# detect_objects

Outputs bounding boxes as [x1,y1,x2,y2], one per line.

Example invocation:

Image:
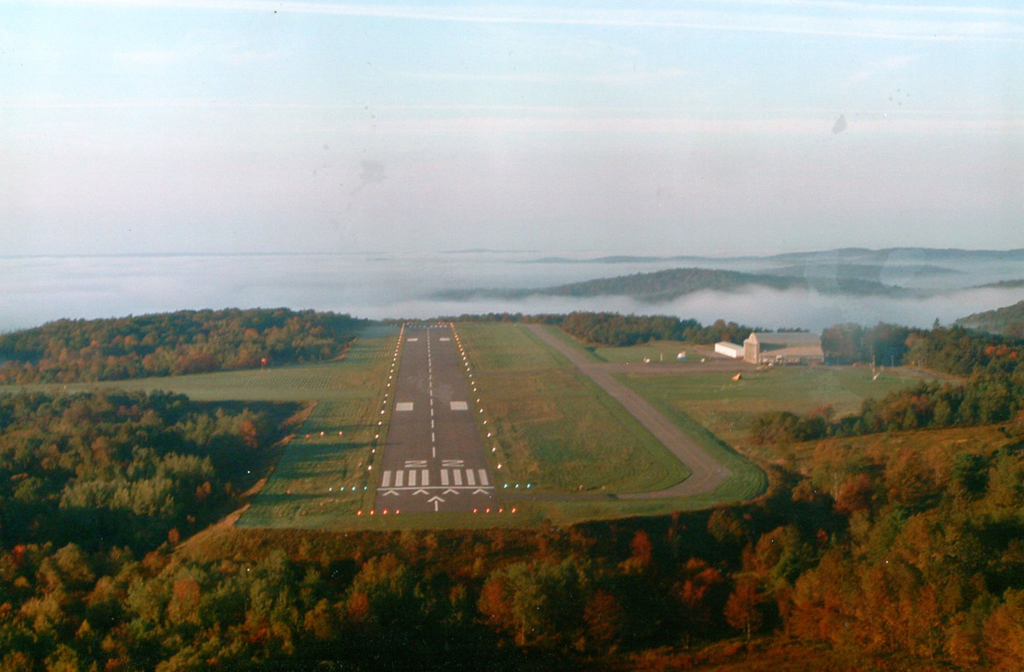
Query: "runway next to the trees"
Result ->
[373,323,499,512]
